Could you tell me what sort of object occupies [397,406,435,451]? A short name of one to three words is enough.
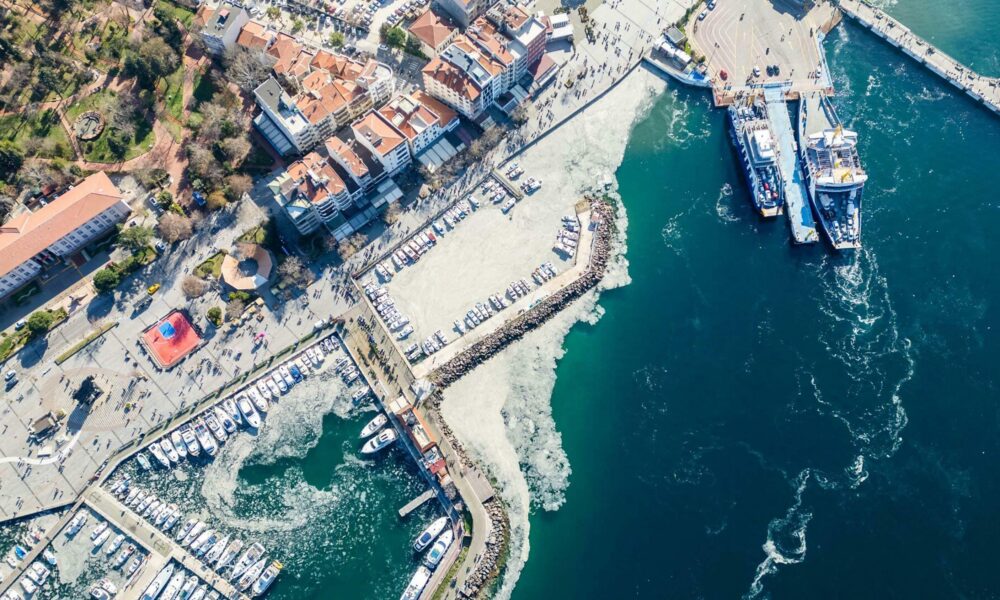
building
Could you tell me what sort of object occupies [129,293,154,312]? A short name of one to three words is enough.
vehicle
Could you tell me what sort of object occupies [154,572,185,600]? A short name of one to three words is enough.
boat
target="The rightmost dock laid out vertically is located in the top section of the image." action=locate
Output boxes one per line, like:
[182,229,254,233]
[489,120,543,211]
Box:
[767,103,818,244]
